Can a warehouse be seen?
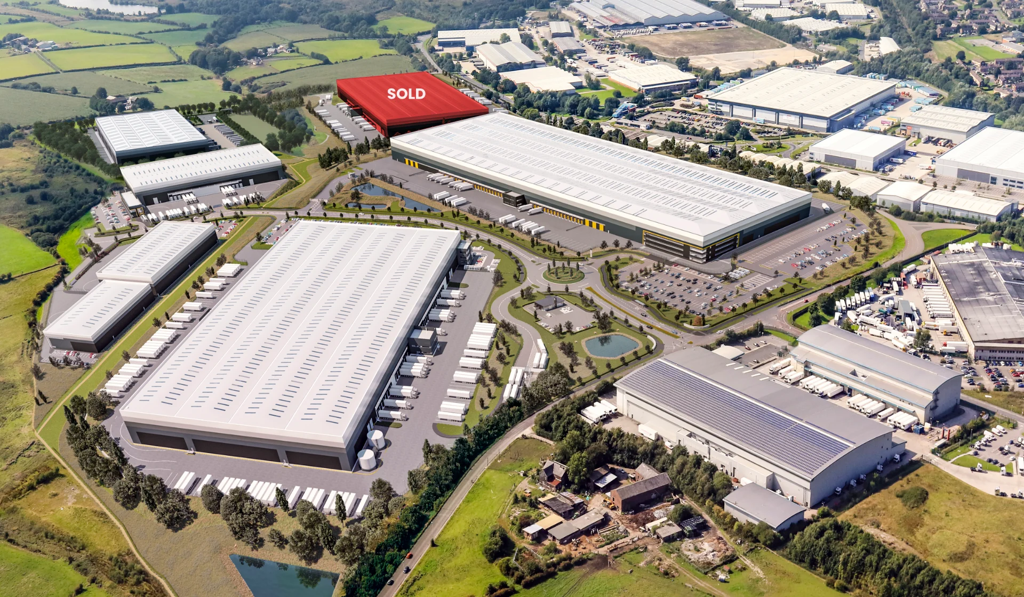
Yes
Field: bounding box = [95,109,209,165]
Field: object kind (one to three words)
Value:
building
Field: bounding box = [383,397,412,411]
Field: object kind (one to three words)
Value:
vehicle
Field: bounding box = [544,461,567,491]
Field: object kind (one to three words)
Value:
house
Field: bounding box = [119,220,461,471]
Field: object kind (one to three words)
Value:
warehouse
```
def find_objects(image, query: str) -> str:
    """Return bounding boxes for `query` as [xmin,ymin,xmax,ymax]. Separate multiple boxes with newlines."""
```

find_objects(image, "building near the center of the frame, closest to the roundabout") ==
[532,291,566,313]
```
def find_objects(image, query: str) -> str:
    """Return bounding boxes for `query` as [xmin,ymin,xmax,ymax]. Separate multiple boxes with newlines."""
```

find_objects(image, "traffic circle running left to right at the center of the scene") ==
[528,260,600,290]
